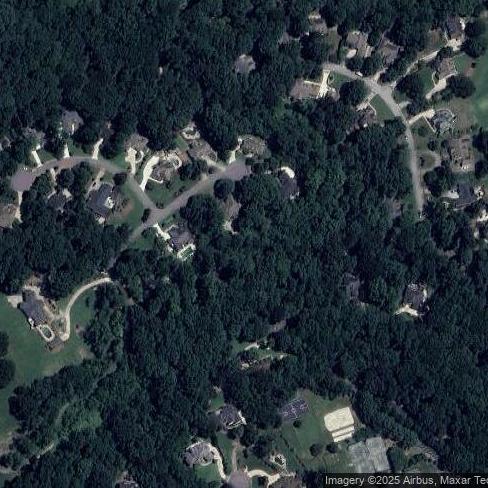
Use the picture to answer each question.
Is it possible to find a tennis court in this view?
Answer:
Yes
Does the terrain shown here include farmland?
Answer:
No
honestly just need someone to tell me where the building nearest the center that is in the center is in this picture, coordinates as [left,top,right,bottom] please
[221,194,239,220]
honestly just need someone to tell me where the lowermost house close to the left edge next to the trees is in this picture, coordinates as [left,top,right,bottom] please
[18,289,52,324]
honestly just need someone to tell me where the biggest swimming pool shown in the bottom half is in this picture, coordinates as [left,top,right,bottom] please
[38,324,54,342]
